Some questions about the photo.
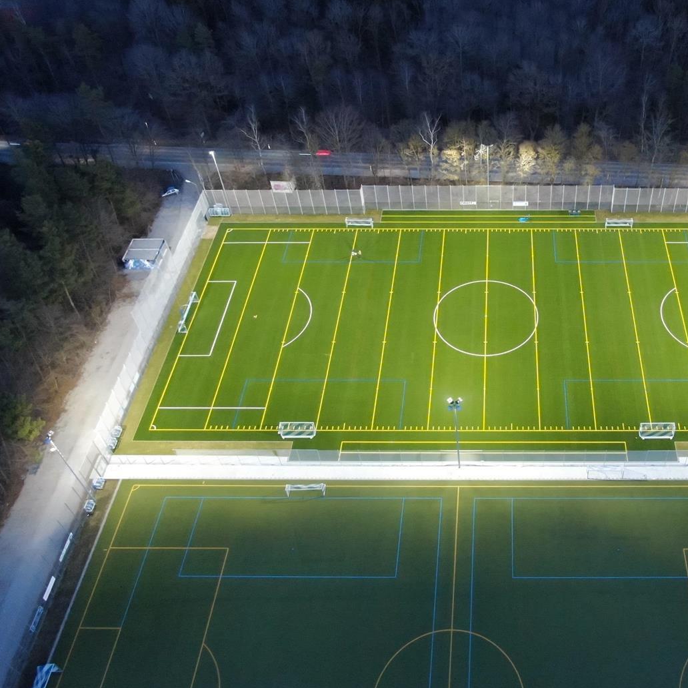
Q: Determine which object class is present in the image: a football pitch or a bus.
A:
football pitch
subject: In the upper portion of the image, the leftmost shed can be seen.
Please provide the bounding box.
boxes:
[119,237,162,268]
